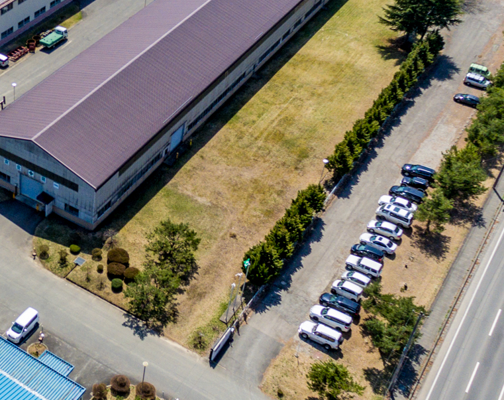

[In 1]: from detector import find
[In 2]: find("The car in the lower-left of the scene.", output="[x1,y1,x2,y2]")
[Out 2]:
[6,305,41,341]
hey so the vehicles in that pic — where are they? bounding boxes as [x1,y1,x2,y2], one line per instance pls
[379,195,418,210]
[338,268,376,292]
[325,275,370,303]
[347,242,388,263]
[467,63,491,80]
[389,185,428,206]
[6,305,41,341]
[0,55,11,68]
[344,254,386,280]
[461,72,493,90]
[399,162,438,182]
[298,319,346,350]
[318,292,359,320]
[42,24,66,44]
[375,205,415,229]
[364,220,405,244]
[357,234,398,258]
[307,305,355,336]
[450,94,484,110]
[401,175,429,191]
